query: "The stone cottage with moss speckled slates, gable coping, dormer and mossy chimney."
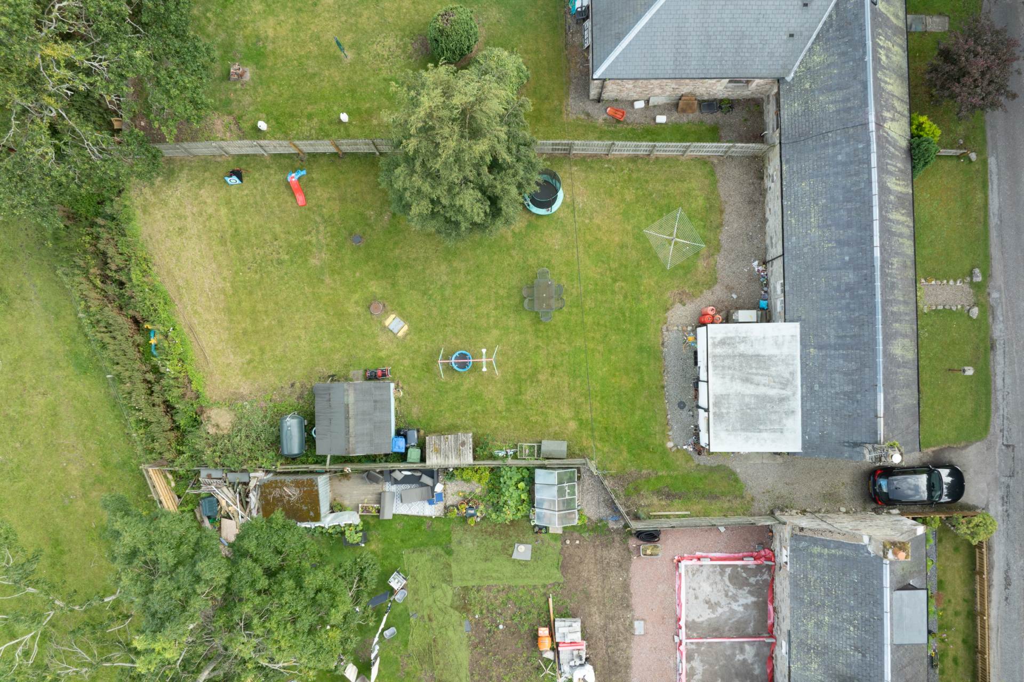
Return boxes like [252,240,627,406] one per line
[771,510,935,682]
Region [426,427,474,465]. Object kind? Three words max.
building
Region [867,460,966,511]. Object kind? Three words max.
car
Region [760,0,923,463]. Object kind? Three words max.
house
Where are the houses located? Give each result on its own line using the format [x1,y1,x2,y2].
[760,0,923,463]
[771,510,935,682]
